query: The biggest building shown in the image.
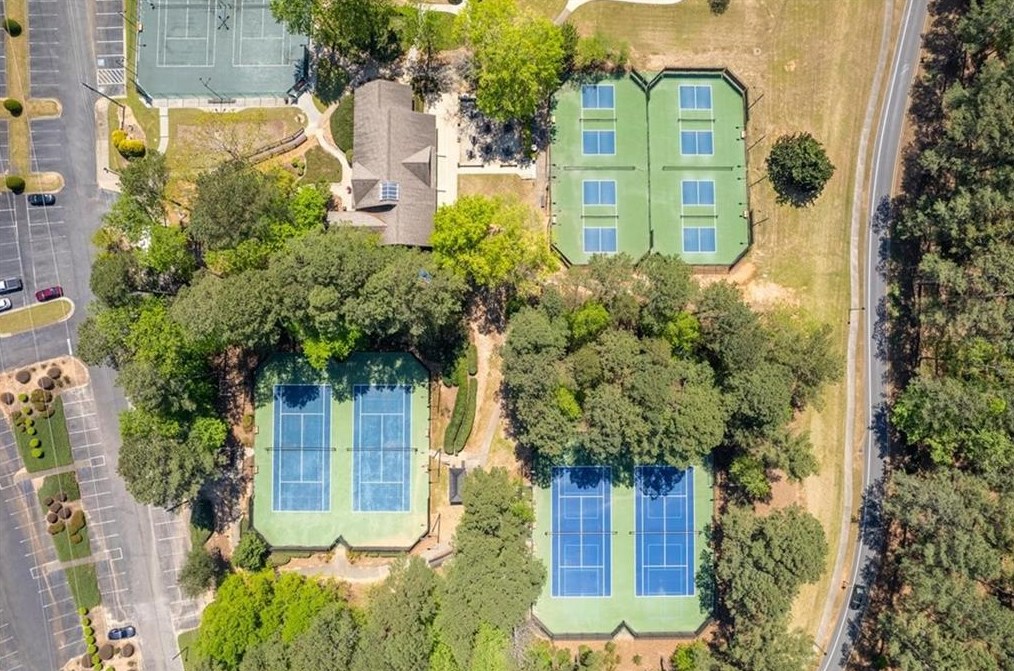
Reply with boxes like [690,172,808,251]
[326,80,438,246]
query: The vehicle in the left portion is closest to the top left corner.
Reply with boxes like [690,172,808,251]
[26,192,53,205]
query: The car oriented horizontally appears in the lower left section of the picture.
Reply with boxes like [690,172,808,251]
[106,626,134,640]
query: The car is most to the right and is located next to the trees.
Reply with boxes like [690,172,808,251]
[852,586,868,612]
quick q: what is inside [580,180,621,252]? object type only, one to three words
sports court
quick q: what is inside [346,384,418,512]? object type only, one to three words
tennis court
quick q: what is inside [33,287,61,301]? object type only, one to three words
vehicle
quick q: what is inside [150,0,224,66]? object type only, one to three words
tennis court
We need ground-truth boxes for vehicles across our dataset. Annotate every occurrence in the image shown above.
[0,298,10,309]
[33,287,61,301]
[106,626,134,640]
[852,586,868,612]
[26,192,53,205]
[0,279,19,293]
